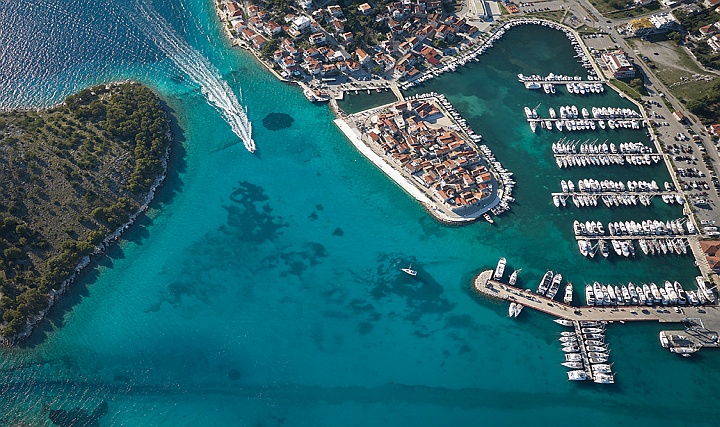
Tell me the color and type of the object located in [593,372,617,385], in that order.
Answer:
white boat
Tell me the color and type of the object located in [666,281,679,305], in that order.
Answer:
white boat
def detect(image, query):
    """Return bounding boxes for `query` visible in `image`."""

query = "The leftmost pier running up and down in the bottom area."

[574,321,593,380]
